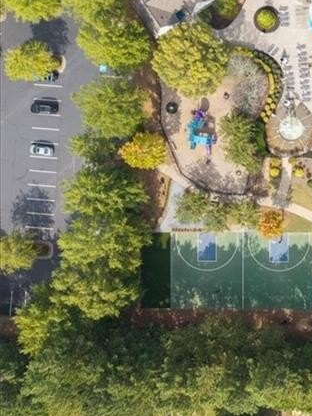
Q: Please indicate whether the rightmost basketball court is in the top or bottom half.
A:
bottom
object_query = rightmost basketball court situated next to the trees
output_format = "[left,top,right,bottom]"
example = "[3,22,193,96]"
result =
[170,232,312,309]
